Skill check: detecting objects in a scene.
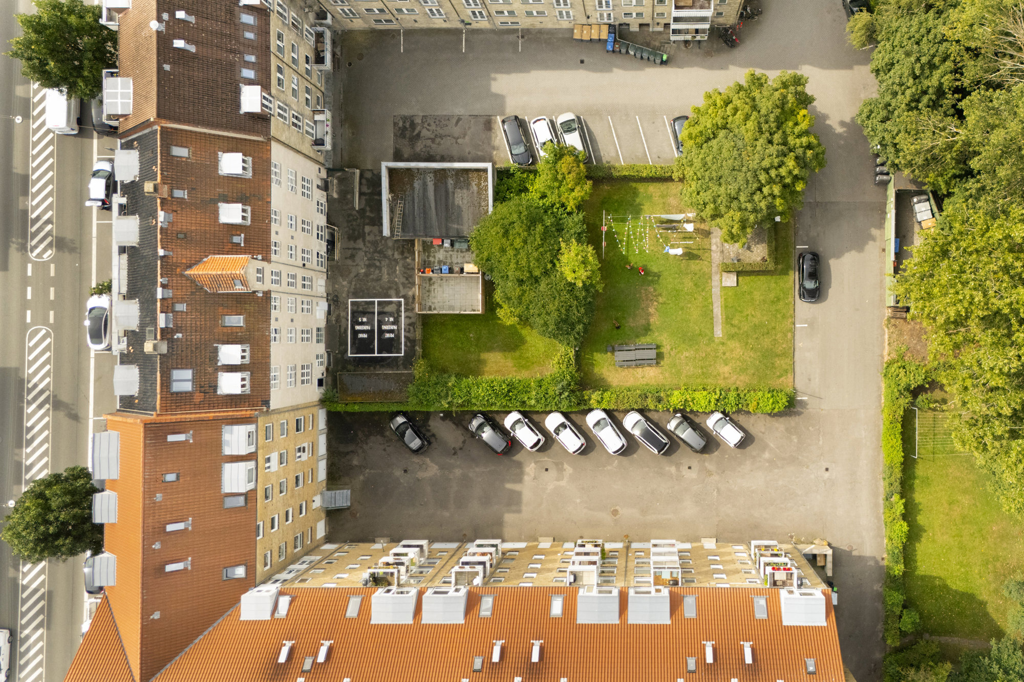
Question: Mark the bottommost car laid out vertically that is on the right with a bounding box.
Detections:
[797,250,822,302]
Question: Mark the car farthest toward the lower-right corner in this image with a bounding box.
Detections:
[706,414,745,448]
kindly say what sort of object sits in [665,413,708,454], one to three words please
car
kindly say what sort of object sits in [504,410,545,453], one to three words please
car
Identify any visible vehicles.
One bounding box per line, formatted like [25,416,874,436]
[560,111,589,159]
[390,411,431,456]
[503,114,532,164]
[49,90,85,140]
[81,295,109,349]
[88,92,114,135]
[469,412,512,457]
[545,411,586,455]
[504,410,545,453]
[84,163,112,210]
[797,250,822,302]
[671,112,690,140]
[706,414,745,448]
[585,409,629,457]
[665,413,708,454]
[82,548,104,596]
[532,115,560,152]
[624,412,669,456]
